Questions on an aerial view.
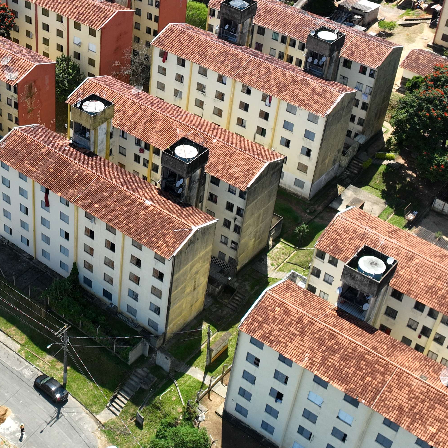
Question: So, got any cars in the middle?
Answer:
No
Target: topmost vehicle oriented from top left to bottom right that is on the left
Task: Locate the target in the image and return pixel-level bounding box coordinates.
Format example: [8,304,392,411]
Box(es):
[31,372,69,403]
